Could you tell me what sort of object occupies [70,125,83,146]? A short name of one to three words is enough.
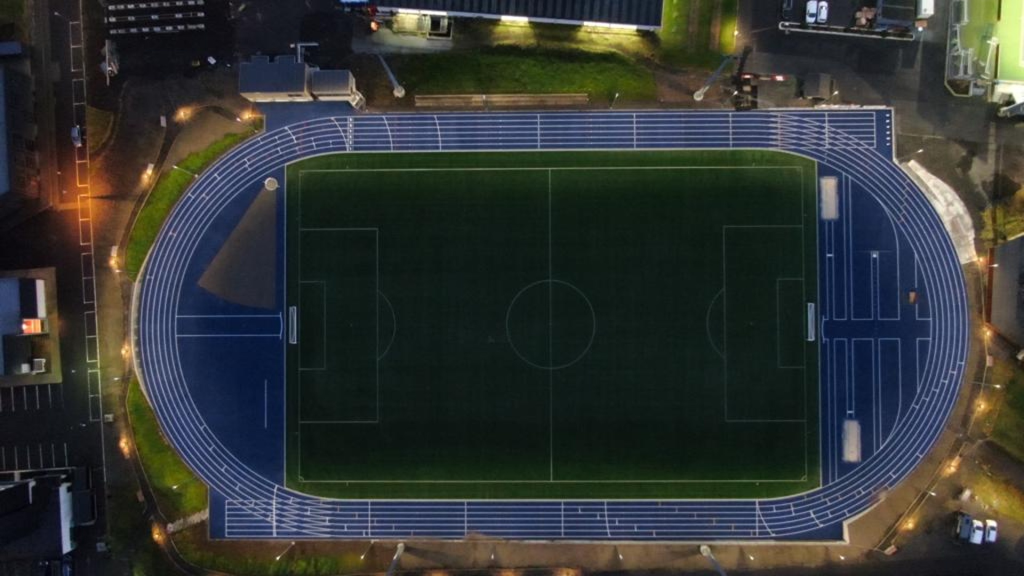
vehicle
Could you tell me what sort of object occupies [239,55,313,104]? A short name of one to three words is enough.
building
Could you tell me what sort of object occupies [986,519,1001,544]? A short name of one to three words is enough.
vehicle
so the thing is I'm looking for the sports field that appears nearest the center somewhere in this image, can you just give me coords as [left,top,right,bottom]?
[284,149,823,500]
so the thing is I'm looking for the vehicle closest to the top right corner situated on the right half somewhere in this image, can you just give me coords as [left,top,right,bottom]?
[919,0,939,22]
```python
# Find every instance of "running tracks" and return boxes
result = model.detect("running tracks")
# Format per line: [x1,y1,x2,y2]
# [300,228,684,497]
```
[138,110,971,539]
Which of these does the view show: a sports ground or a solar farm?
sports ground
